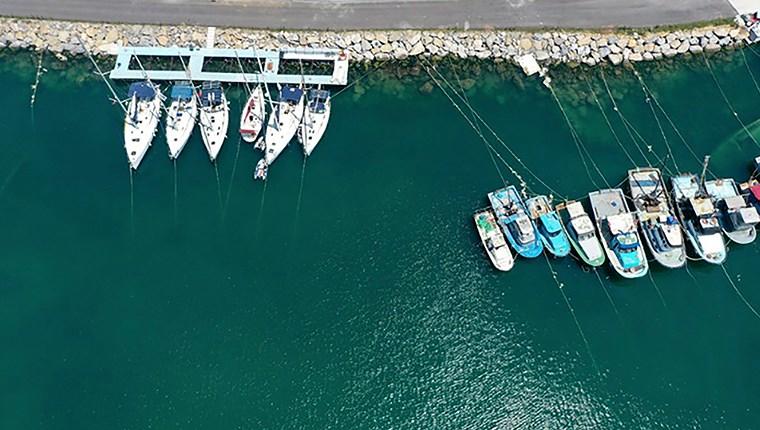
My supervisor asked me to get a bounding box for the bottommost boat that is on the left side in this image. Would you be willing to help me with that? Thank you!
[254,157,269,180]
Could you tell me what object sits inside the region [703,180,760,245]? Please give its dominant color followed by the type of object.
white boat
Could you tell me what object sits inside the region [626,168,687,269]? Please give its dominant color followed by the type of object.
white boat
